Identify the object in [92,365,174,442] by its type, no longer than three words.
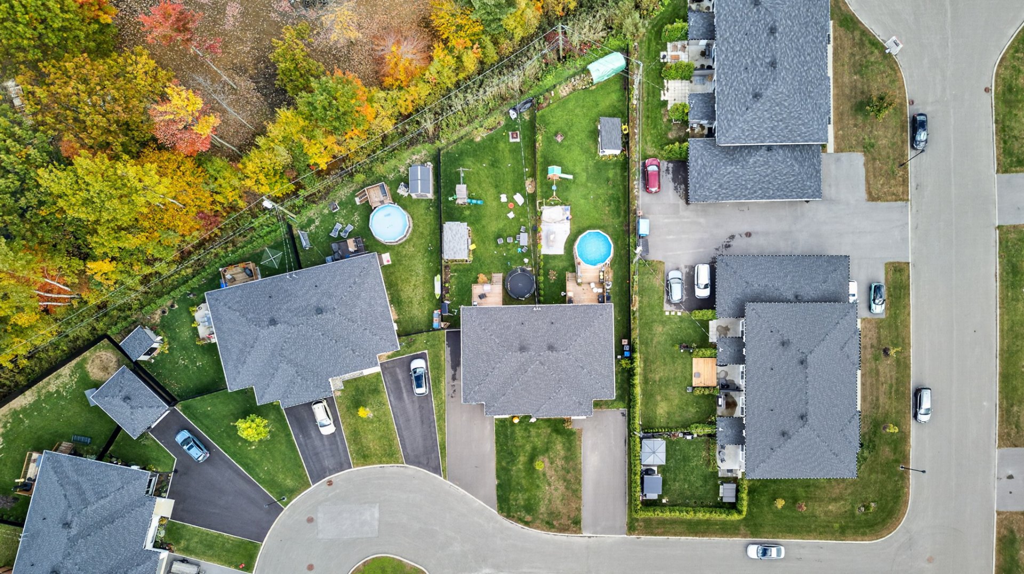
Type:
building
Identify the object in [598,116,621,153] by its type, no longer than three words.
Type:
shed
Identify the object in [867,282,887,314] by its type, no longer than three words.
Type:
car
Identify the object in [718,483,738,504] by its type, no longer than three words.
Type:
gazebo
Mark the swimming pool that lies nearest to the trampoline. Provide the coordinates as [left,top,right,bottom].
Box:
[575,229,613,267]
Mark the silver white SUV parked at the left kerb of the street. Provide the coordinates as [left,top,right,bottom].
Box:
[912,387,934,423]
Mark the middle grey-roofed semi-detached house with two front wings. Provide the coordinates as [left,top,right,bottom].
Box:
[461,304,616,417]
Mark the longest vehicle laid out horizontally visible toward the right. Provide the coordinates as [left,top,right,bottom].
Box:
[746,543,785,562]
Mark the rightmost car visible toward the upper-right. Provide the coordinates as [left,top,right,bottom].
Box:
[909,112,930,151]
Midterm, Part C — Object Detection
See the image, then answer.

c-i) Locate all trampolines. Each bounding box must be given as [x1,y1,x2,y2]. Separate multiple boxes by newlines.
[506,267,535,298]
